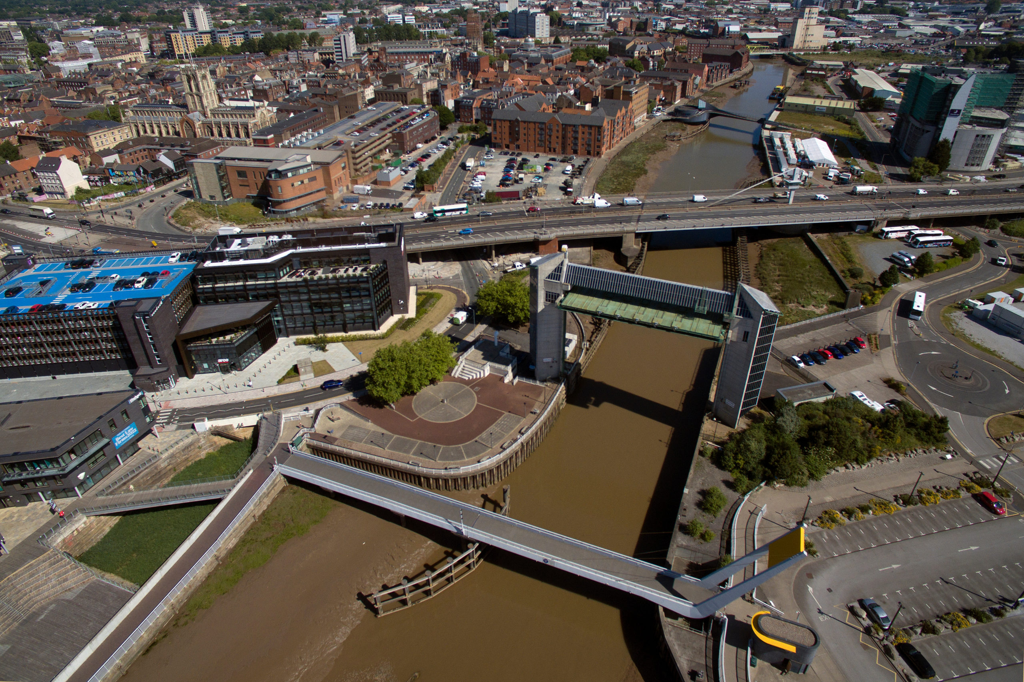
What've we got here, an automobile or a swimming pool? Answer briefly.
automobile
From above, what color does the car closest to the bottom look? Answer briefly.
black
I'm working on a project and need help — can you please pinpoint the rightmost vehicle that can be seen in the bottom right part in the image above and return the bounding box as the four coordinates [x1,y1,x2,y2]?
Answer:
[975,490,1004,513]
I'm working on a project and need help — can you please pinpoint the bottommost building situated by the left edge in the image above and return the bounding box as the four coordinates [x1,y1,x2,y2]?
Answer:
[0,388,160,507]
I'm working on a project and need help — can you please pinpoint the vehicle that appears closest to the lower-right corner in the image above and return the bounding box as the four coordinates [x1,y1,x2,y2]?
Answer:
[895,641,940,682]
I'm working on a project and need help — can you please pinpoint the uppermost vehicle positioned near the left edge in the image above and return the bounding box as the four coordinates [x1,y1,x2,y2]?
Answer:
[26,202,57,219]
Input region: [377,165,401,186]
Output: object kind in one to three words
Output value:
building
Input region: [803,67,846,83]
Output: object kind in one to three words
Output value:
building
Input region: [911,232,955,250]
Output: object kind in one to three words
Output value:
vehicle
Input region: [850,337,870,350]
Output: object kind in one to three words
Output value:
vehicle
